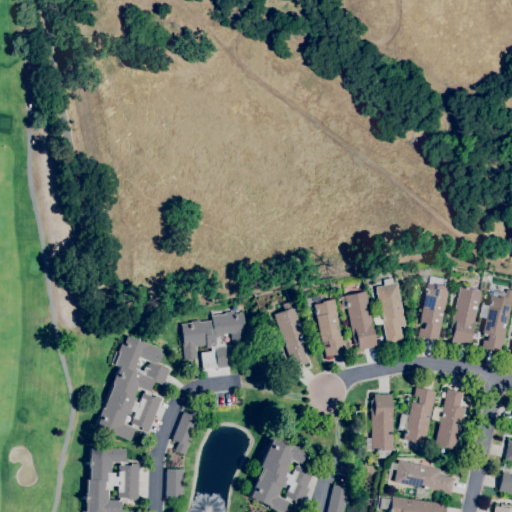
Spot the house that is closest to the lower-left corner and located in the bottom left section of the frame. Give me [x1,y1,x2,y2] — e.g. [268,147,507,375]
[88,450,140,512]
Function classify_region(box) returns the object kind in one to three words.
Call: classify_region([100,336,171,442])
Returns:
house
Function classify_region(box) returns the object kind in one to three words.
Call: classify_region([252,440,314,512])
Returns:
house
